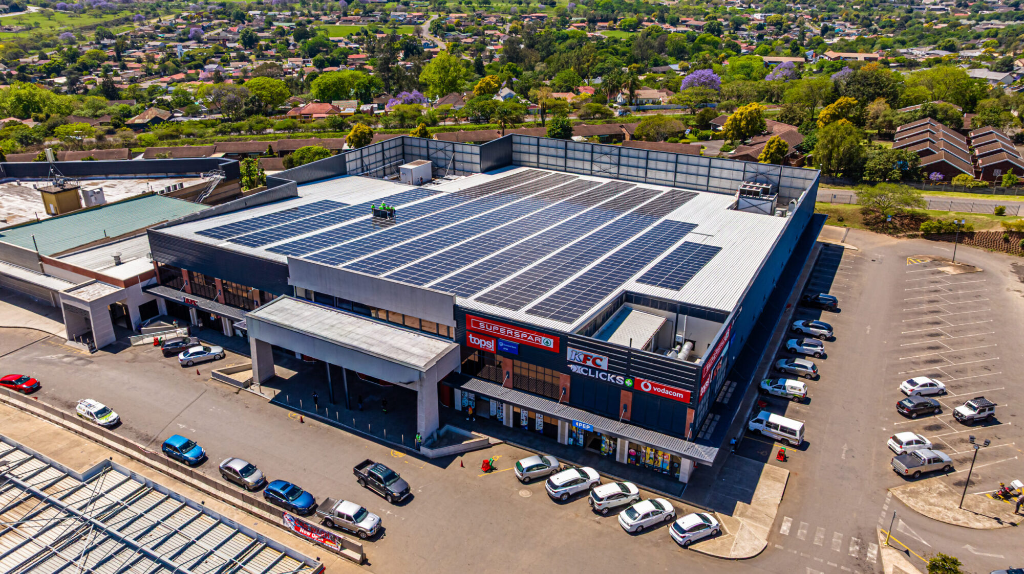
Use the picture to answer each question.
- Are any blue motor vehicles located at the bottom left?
Yes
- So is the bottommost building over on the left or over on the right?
left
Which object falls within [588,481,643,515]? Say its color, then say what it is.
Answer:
white car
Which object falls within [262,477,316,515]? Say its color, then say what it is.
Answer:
blue car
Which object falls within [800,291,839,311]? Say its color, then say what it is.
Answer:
black car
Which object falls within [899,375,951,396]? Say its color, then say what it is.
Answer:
white car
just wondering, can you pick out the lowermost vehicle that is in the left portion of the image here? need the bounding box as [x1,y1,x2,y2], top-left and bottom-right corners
[316,498,385,540]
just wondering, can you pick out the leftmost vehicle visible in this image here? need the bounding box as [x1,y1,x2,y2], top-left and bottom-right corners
[5,368,42,392]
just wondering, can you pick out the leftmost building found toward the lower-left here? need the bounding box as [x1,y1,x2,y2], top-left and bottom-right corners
[0,436,321,574]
